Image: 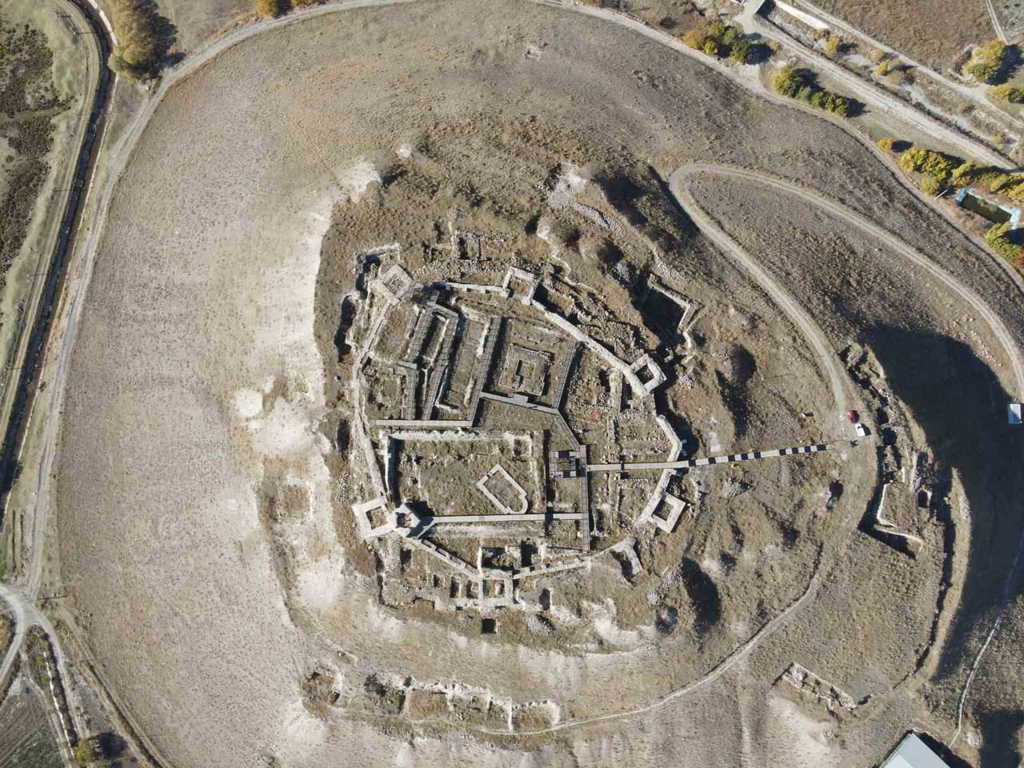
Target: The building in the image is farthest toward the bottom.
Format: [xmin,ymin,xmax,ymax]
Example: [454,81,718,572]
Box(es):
[877,731,952,768]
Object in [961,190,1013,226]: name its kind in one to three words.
swimming pool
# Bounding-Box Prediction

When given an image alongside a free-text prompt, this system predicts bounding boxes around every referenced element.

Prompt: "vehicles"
[856,423,866,437]
[848,409,857,423]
